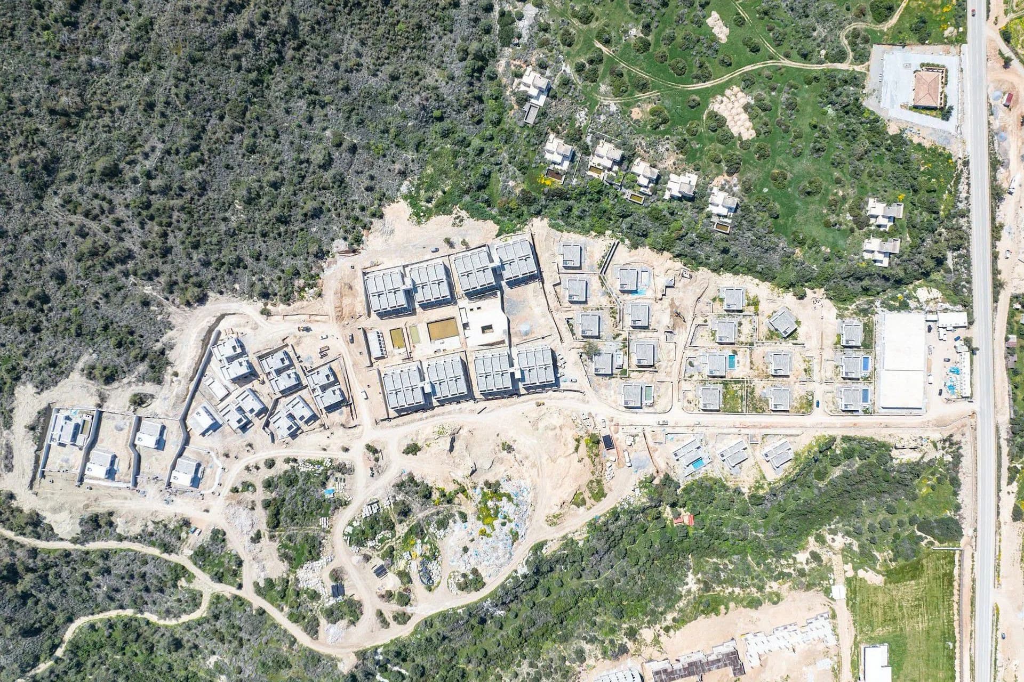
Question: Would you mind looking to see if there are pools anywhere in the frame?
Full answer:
Yes, I can see a pool in this picture.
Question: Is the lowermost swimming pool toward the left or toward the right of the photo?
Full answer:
The lowermost swimming pool sits on the right side.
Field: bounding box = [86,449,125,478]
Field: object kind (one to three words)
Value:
house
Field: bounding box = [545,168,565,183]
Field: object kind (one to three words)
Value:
swimming pool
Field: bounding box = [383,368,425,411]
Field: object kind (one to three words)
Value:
building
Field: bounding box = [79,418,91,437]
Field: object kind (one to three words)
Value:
swimming pool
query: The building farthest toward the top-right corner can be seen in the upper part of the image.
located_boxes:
[910,67,944,109]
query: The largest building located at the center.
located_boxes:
[458,291,509,351]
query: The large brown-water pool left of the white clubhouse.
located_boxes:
[426,316,460,342]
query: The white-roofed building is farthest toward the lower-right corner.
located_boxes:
[858,642,892,682]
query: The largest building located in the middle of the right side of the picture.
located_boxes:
[878,314,925,408]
